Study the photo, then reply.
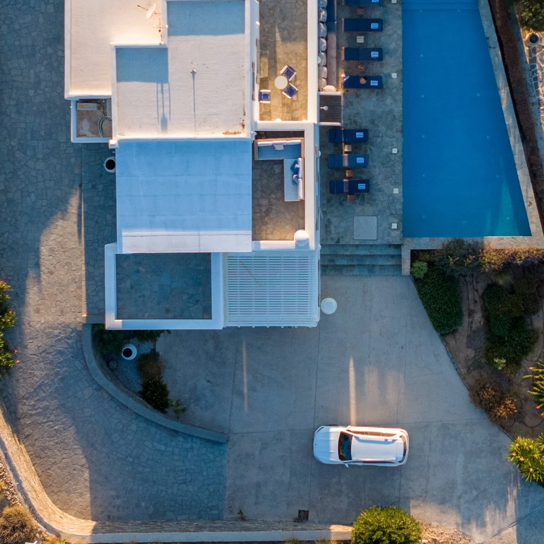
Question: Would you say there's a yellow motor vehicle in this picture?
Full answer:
No, the frame has no yellow motor vehicle in it.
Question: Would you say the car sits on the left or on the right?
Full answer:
You can find the car on the right side of the picture.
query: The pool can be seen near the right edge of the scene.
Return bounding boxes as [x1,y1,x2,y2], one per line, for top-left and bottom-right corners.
[402,0,544,275]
